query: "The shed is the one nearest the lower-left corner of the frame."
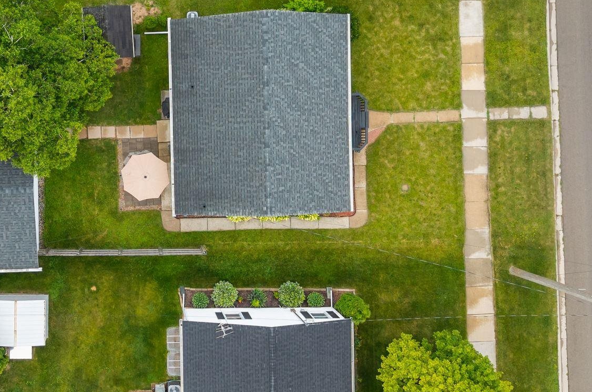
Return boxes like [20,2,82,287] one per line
[0,291,49,358]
